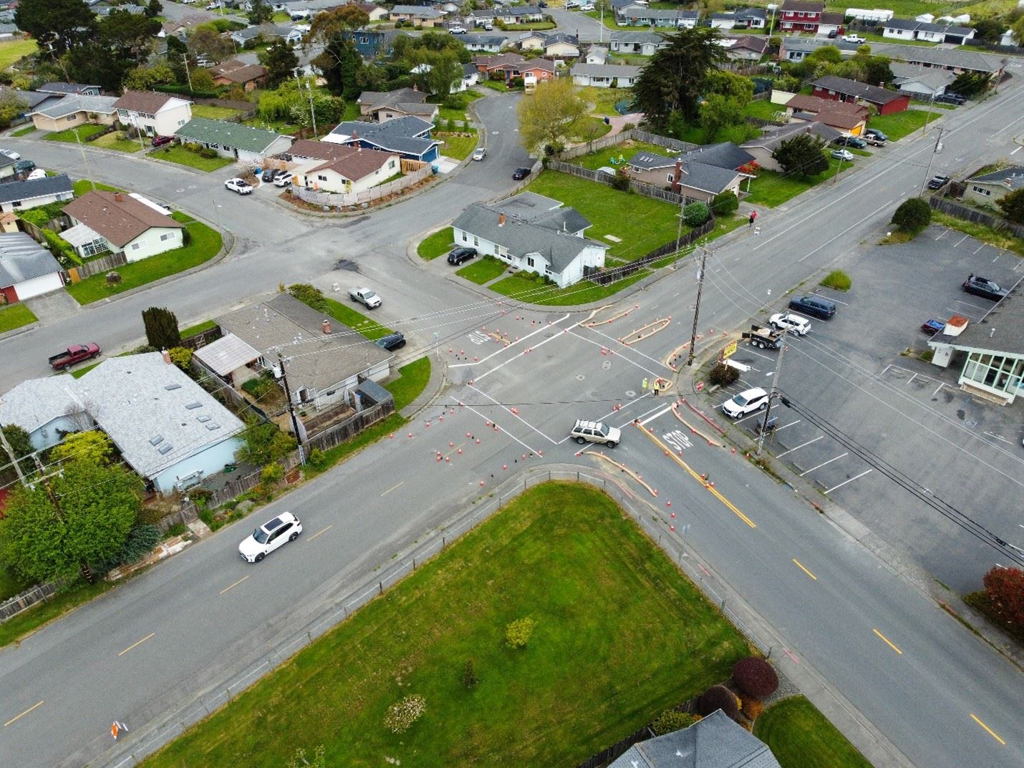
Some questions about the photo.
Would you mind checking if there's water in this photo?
No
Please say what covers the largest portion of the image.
paved ground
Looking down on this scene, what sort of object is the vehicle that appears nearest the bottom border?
car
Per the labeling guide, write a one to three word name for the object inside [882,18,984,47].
house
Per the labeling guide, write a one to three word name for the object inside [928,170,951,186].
vehicle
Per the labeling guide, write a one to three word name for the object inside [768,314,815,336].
car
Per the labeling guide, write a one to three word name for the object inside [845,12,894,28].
shed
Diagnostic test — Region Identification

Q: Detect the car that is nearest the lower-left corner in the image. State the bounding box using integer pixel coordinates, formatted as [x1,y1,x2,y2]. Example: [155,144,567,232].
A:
[235,513,301,564]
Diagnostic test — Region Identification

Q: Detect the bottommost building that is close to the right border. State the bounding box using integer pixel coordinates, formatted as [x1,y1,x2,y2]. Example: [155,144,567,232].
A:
[926,274,1024,407]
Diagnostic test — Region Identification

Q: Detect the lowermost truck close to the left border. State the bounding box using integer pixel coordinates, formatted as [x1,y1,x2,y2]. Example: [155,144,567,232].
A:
[40,341,104,370]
